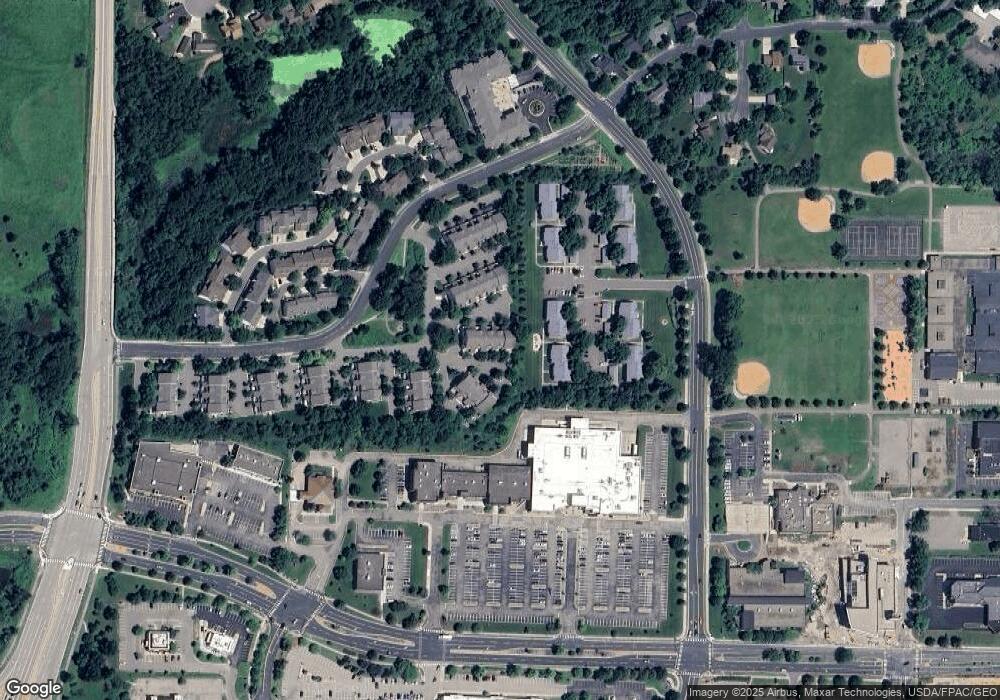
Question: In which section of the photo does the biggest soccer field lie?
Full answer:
The biggest soccer field is in the right part of the image.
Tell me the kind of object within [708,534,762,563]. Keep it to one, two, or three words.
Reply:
roundabout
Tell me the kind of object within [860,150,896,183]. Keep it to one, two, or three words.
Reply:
baseball field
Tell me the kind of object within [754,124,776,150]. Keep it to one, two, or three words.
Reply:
house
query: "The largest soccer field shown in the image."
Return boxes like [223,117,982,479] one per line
[733,276,868,404]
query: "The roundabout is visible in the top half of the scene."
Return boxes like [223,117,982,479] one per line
[515,65,557,136]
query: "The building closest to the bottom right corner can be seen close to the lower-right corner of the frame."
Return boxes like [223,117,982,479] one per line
[945,576,1000,634]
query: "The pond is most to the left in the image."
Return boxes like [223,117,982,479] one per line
[270,49,343,87]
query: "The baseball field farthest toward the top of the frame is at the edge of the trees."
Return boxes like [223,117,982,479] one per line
[857,41,895,79]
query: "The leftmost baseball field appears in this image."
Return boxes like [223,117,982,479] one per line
[733,360,771,401]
